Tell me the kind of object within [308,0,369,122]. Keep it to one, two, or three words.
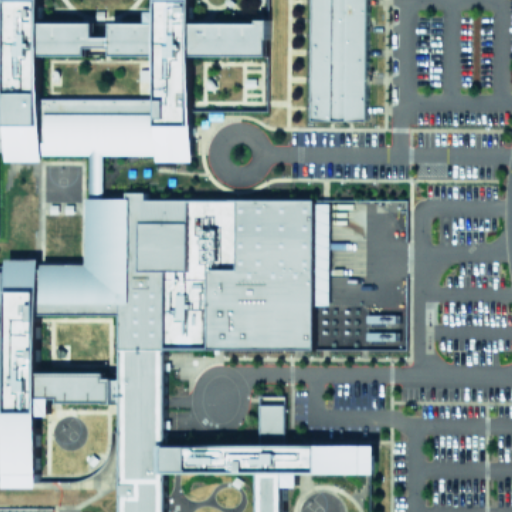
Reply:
building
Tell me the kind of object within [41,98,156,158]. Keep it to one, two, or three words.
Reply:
building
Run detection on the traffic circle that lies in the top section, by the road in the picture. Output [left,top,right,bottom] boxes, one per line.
[212,119,272,185]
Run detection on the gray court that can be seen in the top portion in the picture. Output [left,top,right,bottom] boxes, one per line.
[46,166,82,202]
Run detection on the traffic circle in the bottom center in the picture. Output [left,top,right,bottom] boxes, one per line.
[190,364,254,436]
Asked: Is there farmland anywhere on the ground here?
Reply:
No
